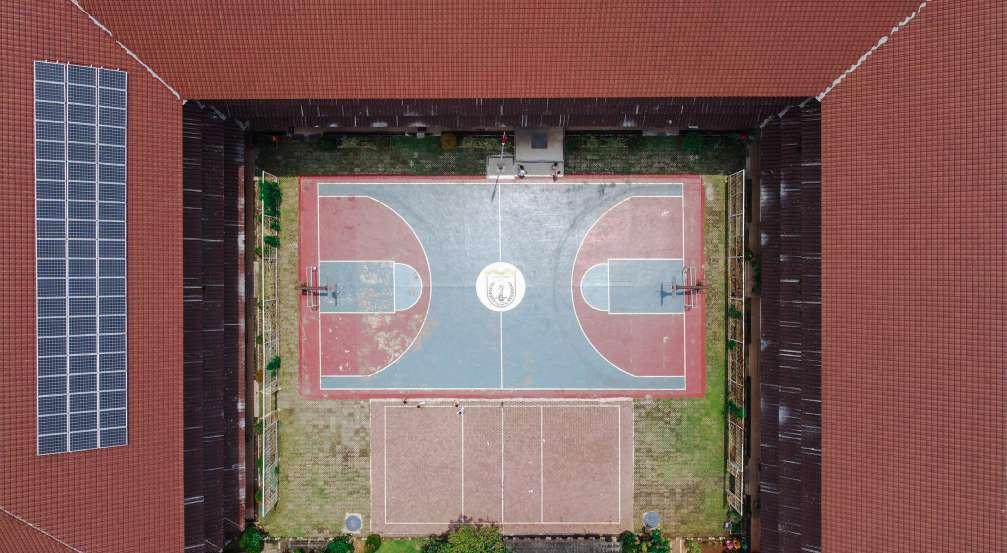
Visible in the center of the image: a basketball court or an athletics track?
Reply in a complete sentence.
What appears in the center of the image is a basketball court.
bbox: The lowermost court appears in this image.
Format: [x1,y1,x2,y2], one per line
[370,398,633,535]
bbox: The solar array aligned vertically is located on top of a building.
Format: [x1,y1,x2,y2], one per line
[33,60,127,457]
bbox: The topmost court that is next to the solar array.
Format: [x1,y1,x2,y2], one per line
[299,175,705,399]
